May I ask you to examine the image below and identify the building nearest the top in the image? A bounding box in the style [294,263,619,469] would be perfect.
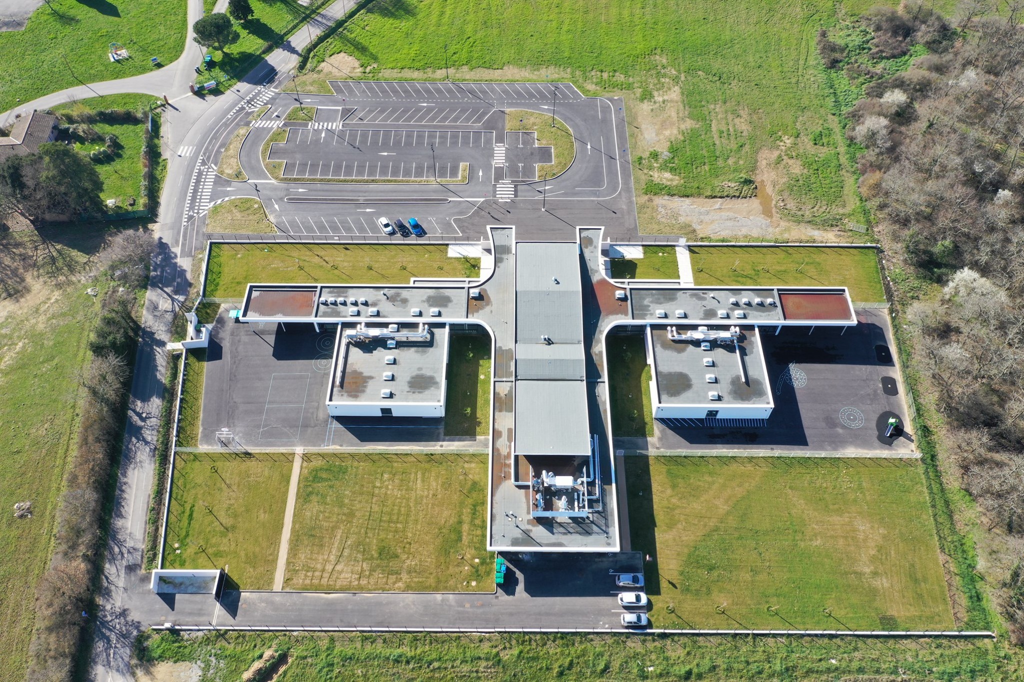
[0,110,61,163]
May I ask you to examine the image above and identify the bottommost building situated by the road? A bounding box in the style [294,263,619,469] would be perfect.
[240,226,857,557]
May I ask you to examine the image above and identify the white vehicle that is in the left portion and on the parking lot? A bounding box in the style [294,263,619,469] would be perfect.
[379,217,393,234]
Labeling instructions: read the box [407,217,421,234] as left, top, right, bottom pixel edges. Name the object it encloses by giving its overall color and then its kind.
blue car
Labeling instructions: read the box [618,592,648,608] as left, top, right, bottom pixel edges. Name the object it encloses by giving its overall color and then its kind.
white car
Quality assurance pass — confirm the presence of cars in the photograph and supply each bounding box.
[407,217,421,234]
[393,219,407,236]
[616,573,643,589]
[379,217,393,234]
[621,613,648,628]
[618,592,648,608]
